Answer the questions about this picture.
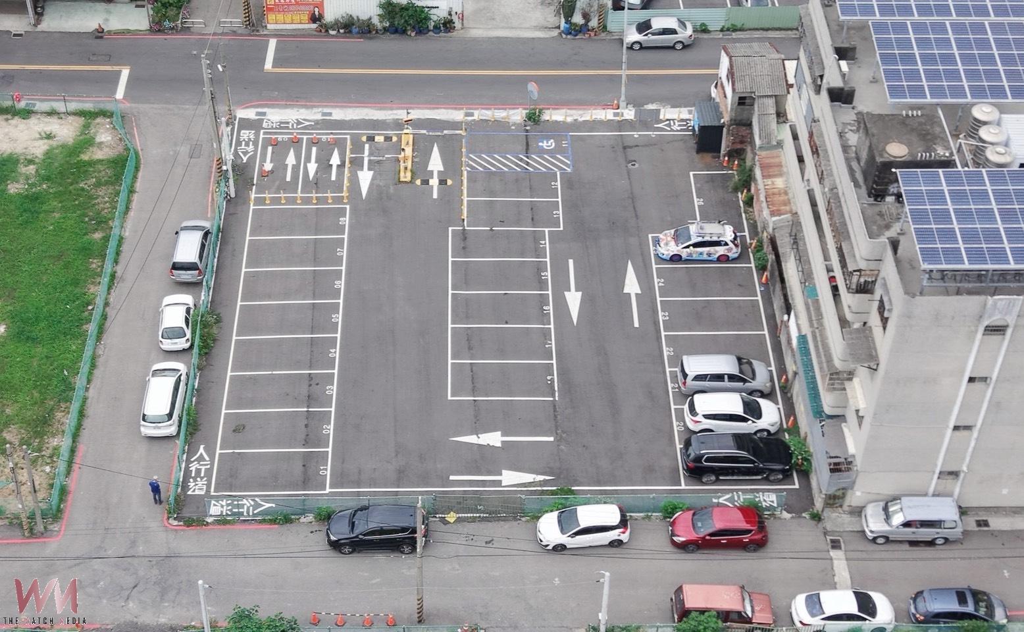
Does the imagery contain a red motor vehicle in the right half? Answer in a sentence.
Yes, you'll find a red motor vehicle in the right half.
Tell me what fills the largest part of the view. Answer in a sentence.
The scene is dominated by paved ground.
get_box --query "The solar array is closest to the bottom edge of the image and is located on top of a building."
[899,171,1024,295]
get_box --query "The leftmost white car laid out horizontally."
[534,504,630,553]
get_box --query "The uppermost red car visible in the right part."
[669,504,770,553]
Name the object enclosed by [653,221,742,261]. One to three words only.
car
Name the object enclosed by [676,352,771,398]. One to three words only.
car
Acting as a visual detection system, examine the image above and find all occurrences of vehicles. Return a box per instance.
[683,429,793,483]
[155,290,199,352]
[534,504,630,553]
[669,504,770,553]
[670,583,776,632]
[789,587,899,632]
[326,505,429,557]
[622,16,696,50]
[685,390,781,438]
[137,361,188,438]
[676,352,771,398]
[653,221,742,261]
[860,495,967,546]
[906,586,1015,632]
[170,219,213,283]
